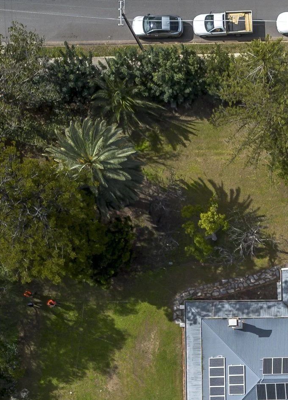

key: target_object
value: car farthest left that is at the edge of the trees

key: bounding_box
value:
[133,12,184,41]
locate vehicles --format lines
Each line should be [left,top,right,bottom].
[133,12,184,41]
[276,12,288,36]
[193,10,253,38]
